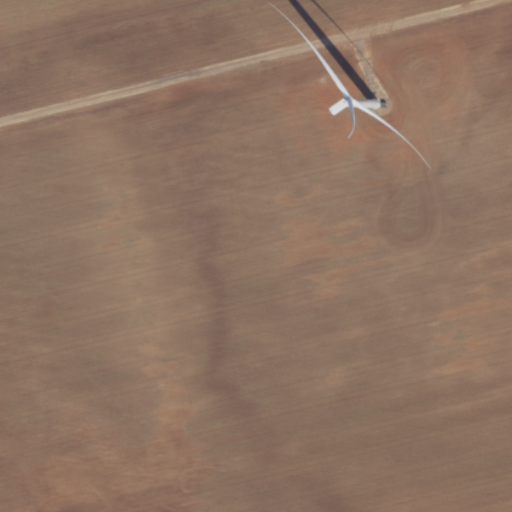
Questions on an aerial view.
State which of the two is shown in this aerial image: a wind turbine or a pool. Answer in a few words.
wind turbine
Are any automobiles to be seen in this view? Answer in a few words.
No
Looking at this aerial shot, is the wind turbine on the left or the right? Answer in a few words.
right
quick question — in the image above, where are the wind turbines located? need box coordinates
[270,2,428,166]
